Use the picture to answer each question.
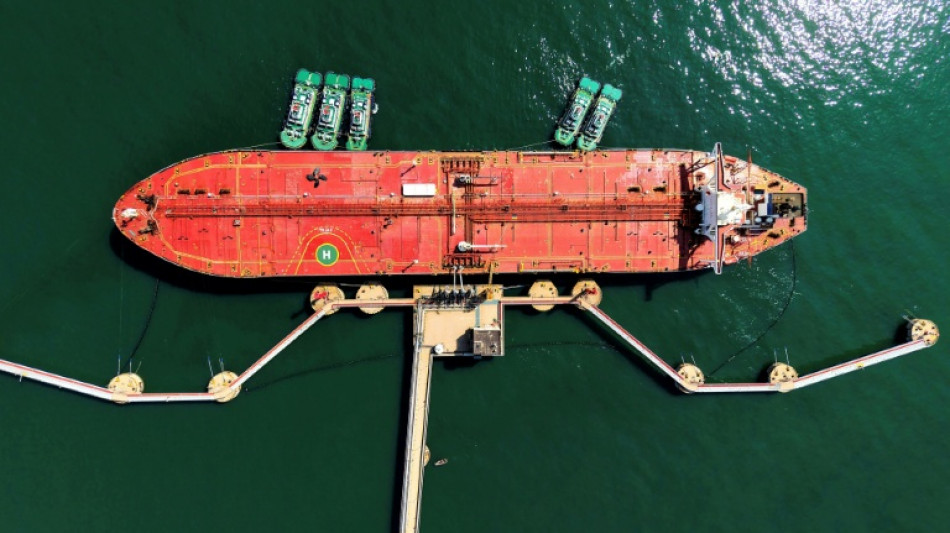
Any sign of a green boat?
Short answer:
Yes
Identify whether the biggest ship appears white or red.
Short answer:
red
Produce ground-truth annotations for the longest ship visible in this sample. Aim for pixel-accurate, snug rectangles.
[111,143,808,277]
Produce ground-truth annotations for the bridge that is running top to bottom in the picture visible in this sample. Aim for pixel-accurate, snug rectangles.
[400,362,432,533]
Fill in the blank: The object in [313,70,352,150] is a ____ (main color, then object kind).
green boat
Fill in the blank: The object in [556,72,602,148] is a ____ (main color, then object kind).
green boat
